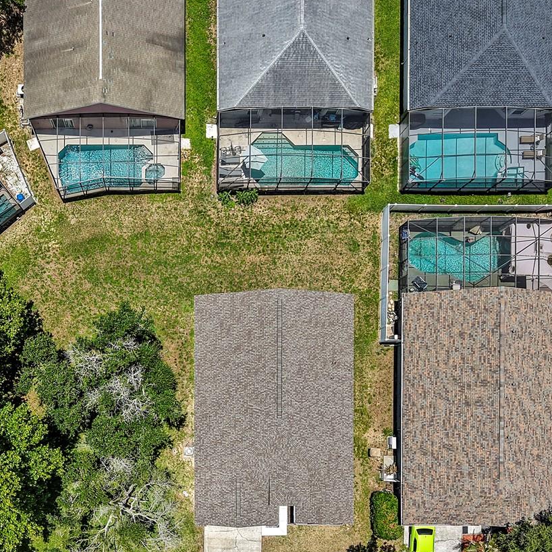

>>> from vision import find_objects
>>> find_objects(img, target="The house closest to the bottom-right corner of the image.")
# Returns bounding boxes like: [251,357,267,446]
[397,287,552,526]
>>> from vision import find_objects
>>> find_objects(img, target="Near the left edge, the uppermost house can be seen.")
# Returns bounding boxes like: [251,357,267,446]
[24,0,185,129]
